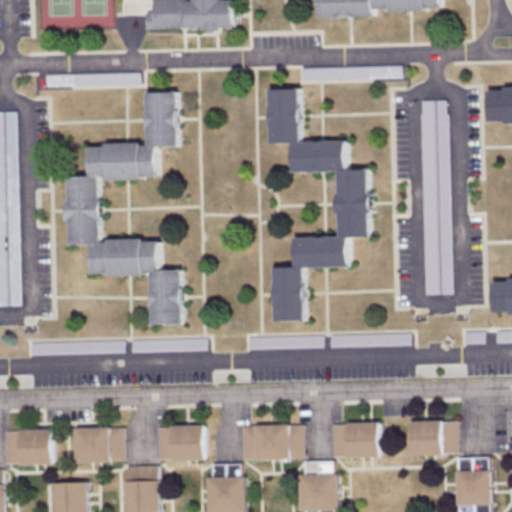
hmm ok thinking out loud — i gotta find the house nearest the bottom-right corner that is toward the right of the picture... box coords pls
[456,456,495,512]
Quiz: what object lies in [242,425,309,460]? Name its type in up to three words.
house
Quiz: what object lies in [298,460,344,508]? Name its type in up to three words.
house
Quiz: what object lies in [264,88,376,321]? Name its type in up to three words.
building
